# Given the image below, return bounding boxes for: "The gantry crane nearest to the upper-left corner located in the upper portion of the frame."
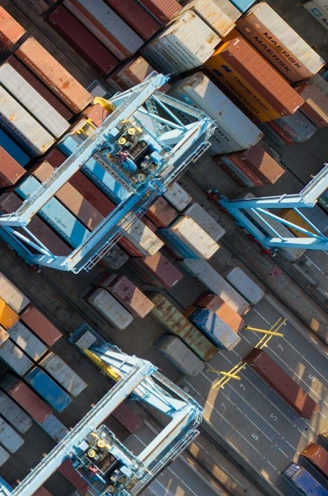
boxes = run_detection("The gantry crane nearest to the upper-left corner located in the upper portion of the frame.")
[0,68,225,287]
